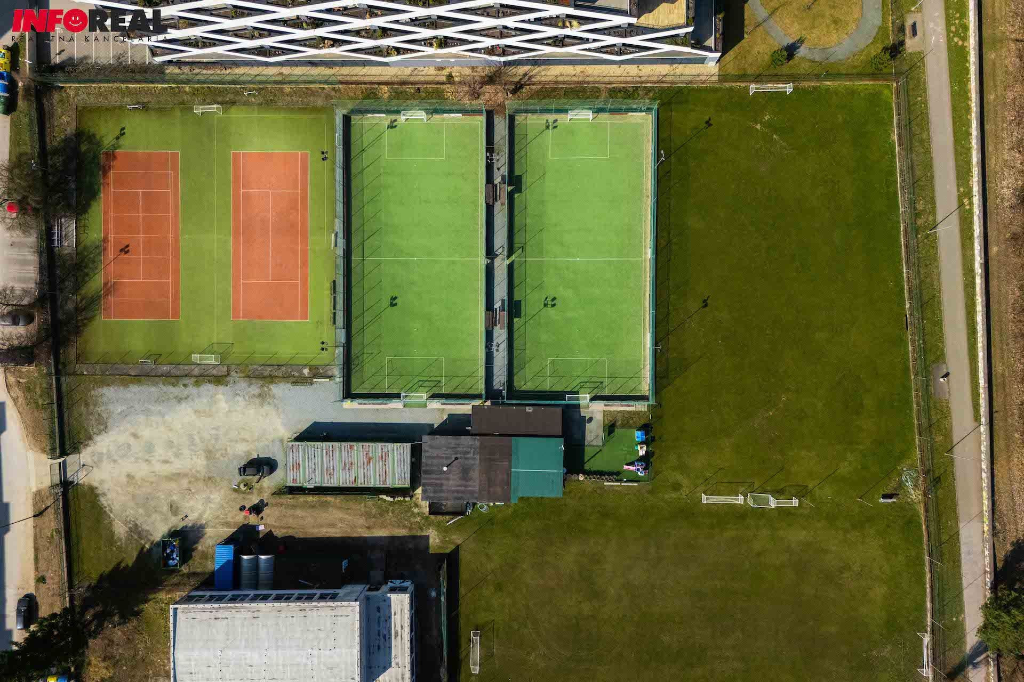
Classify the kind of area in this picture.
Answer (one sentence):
What you see here is a sports ground.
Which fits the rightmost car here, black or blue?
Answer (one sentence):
The rightmost car is black.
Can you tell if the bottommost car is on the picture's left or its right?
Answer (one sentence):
The bottommost car sits on the left side.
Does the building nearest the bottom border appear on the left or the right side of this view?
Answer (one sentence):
It is on the left.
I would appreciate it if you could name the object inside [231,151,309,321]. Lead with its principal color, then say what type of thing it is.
orange tennis court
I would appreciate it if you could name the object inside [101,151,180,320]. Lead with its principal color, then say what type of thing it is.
orange tennis court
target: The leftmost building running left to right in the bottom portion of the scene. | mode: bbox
[171,574,416,682]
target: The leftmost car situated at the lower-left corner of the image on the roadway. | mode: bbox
[9,597,30,631]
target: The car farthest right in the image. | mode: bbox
[239,464,271,485]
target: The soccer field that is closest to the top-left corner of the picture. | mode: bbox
[345,113,482,399]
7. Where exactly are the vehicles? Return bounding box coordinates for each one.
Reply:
[0,309,31,325]
[239,464,271,485]
[5,200,32,215]
[9,597,30,631]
